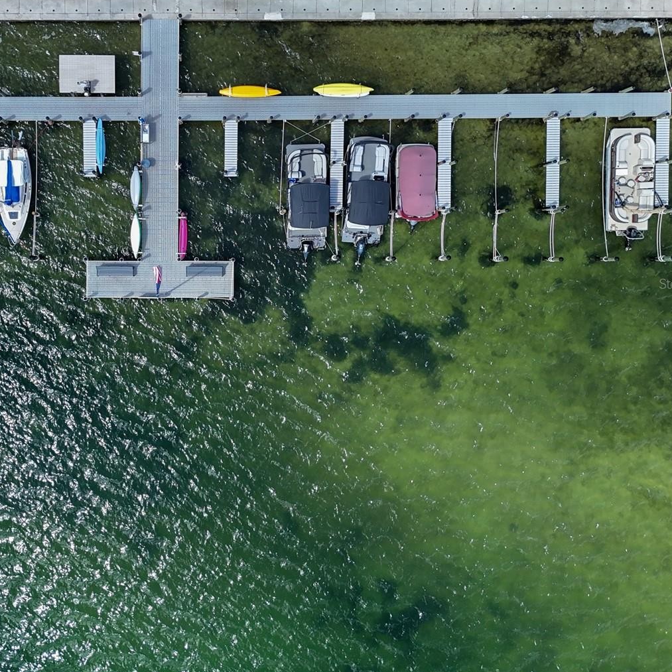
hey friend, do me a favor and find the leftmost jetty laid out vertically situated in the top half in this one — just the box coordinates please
[81,114,100,178]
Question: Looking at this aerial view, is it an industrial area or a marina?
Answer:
marina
